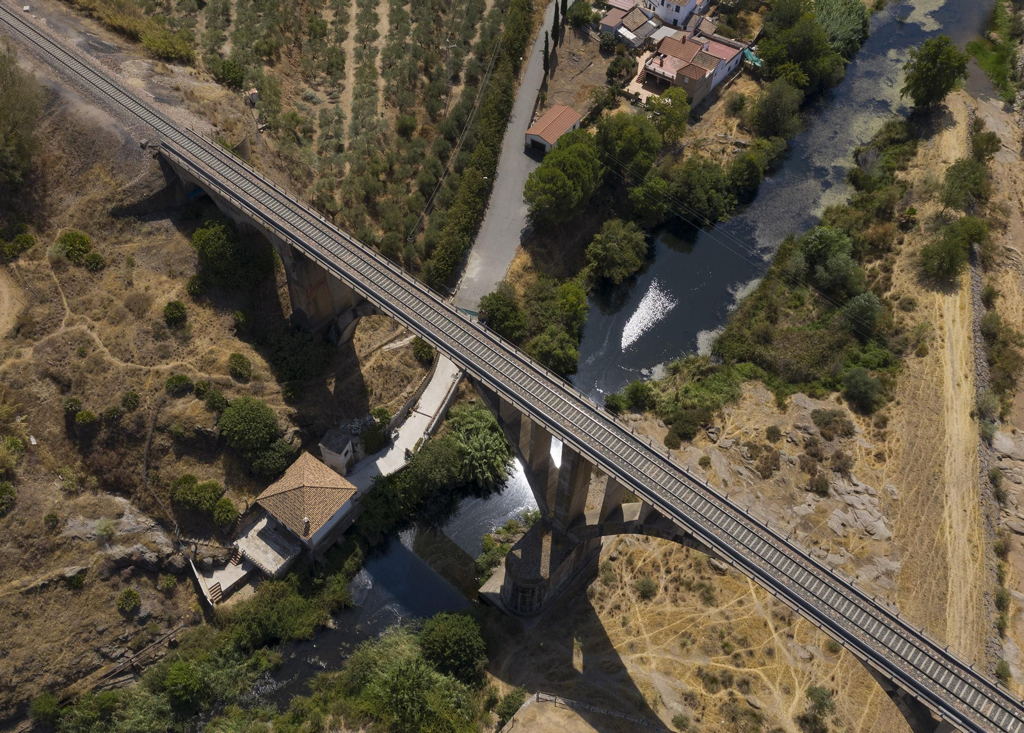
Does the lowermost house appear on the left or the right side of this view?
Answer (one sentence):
You can find the lowermost house on the left side of the picture.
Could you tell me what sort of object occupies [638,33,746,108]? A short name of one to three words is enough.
house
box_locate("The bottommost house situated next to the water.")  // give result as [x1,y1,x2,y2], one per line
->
[256,452,364,555]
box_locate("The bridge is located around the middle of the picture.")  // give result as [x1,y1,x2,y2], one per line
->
[139,112,1024,733]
